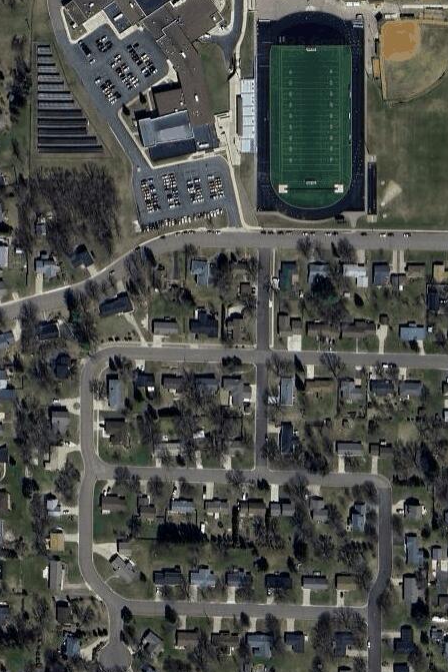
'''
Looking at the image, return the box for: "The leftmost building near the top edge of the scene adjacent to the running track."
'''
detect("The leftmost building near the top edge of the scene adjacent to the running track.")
[63,0,222,161]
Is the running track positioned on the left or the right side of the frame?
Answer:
right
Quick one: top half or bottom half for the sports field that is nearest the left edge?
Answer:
top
